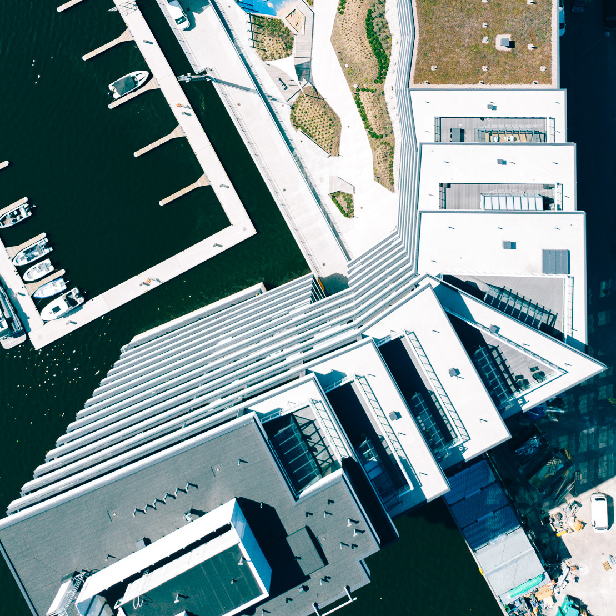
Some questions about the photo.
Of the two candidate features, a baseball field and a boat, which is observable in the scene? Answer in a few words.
boat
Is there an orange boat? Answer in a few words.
No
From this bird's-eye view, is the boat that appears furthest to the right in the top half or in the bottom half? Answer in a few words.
top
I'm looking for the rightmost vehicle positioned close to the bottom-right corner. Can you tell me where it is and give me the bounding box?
[591,490,609,528]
